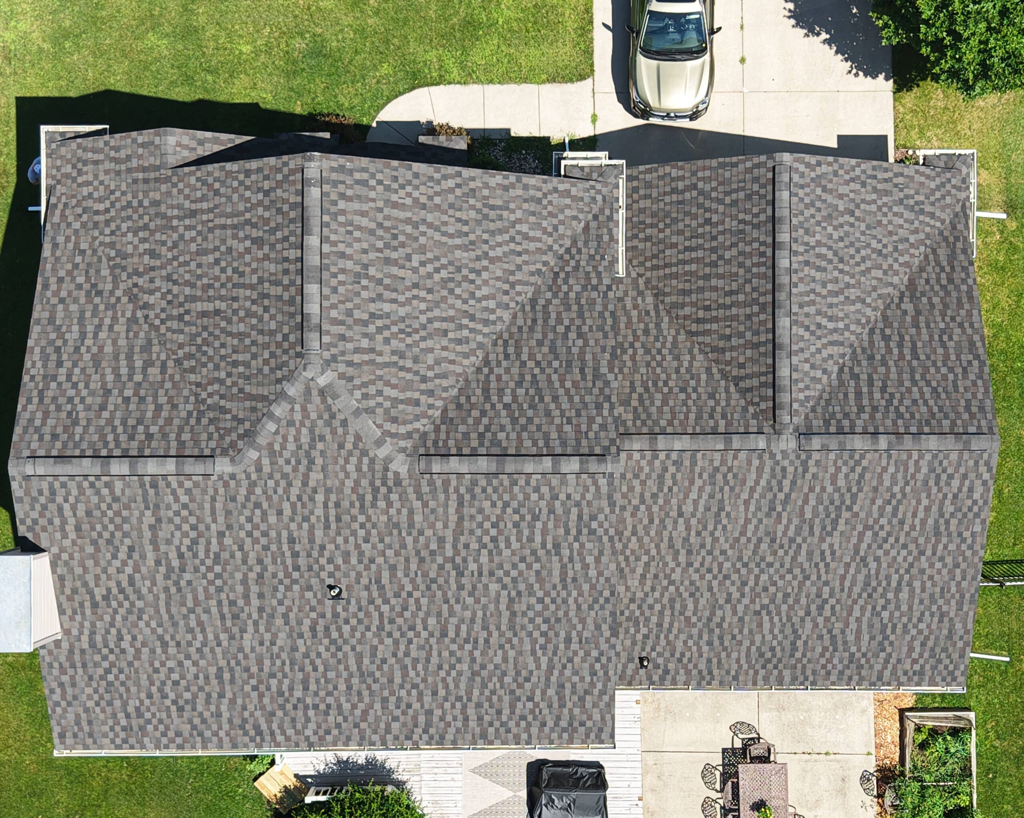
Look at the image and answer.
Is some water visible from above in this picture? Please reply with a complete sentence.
No, water can't be seen anywhere here.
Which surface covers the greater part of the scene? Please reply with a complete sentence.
The largest share of the image is taken up by buildings.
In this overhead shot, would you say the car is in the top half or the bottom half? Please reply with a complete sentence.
The top half of the photo is where the car is.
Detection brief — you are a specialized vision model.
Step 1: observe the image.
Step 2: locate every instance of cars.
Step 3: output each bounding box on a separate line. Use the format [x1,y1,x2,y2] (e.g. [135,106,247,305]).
[618,0,728,125]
